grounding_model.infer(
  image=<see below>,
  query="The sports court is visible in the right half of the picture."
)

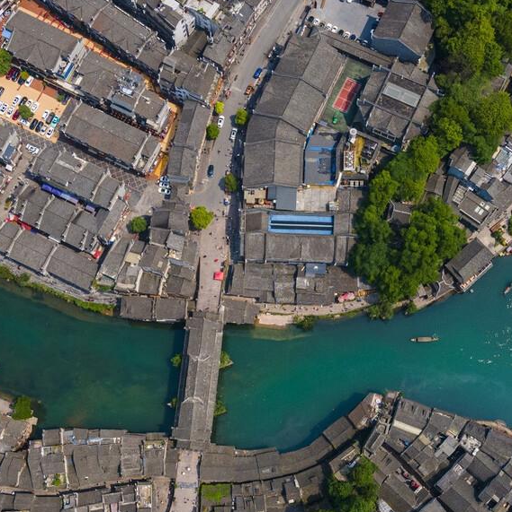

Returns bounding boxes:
[318,57,369,127]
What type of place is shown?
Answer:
residential area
